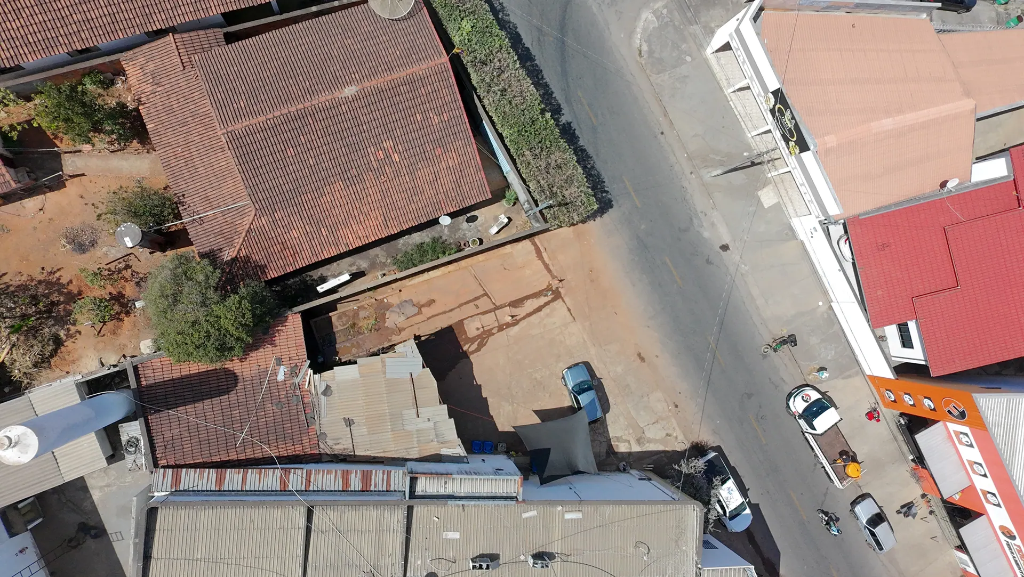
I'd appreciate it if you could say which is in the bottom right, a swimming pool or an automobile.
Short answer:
automobile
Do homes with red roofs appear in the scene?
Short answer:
Yes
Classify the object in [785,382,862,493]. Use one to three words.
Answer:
truck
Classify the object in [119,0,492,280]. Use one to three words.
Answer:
house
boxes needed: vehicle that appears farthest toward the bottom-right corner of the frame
[846,491,896,553]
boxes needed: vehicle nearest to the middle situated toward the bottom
[561,361,606,429]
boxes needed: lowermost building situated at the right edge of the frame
[867,369,1024,577]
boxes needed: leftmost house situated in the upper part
[0,157,41,203]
